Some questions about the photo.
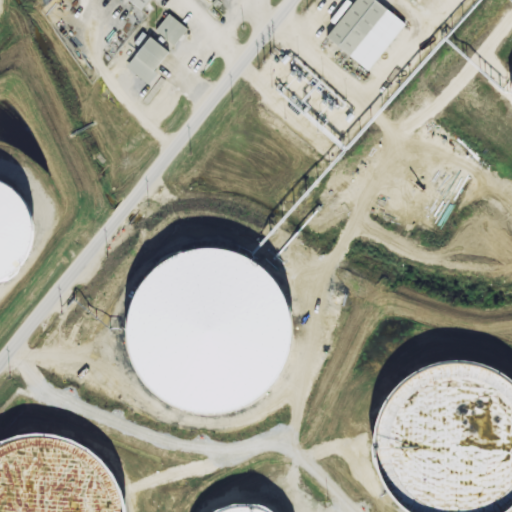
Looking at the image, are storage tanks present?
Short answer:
Yes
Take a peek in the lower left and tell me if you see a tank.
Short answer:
Yes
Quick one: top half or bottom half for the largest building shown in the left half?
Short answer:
top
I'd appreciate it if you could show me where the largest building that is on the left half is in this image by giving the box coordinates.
[126,35,169,79]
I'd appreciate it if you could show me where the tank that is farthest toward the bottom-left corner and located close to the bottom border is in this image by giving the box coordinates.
[0,432,125,512]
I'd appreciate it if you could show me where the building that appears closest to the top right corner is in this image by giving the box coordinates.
[326,0,406,70]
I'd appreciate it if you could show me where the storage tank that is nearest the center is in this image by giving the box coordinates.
[127,246,292,416]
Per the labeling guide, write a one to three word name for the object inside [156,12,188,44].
building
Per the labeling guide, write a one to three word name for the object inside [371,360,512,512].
storage tank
